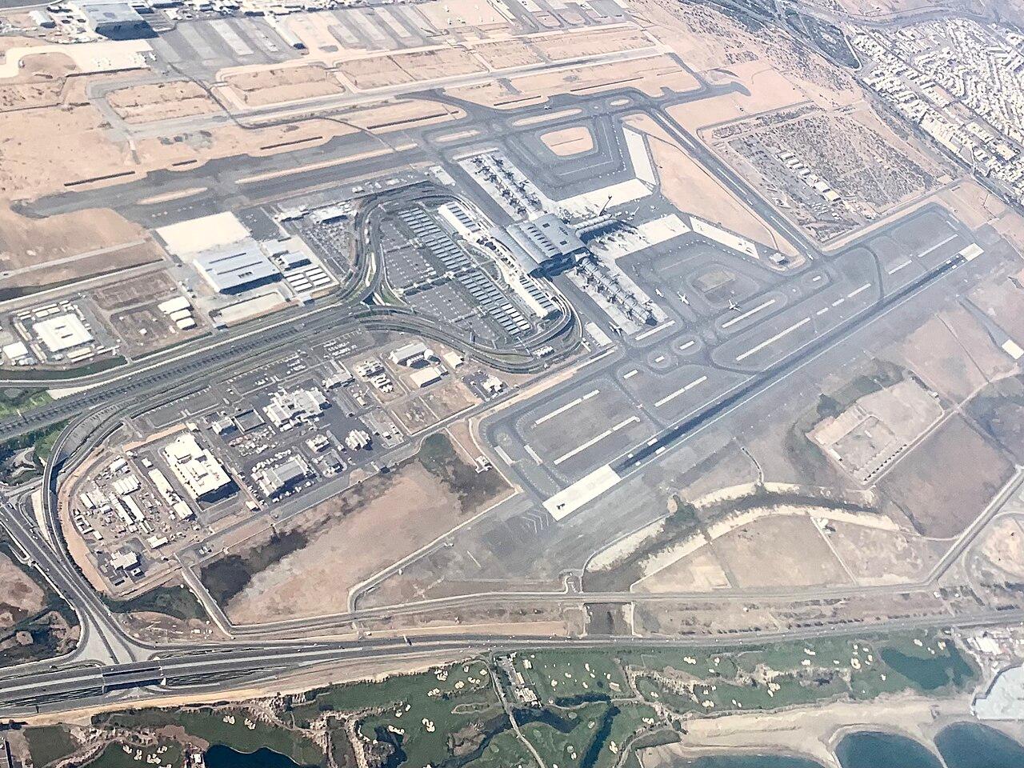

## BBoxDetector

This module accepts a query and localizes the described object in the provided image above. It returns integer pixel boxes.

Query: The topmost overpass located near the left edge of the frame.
[43,379,165,599]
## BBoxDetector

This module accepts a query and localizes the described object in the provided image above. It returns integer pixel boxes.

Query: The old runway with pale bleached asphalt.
[240,46,672,127]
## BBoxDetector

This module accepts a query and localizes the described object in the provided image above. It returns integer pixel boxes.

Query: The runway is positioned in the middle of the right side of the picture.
[543,242,985,521]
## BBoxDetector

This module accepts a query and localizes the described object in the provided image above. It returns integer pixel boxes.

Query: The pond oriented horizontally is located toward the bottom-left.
[197,744,309,768]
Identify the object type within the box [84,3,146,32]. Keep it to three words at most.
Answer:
hangar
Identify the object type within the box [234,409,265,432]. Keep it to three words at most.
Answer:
building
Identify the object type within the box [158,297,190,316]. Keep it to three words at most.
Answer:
shed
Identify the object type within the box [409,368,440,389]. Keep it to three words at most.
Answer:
building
